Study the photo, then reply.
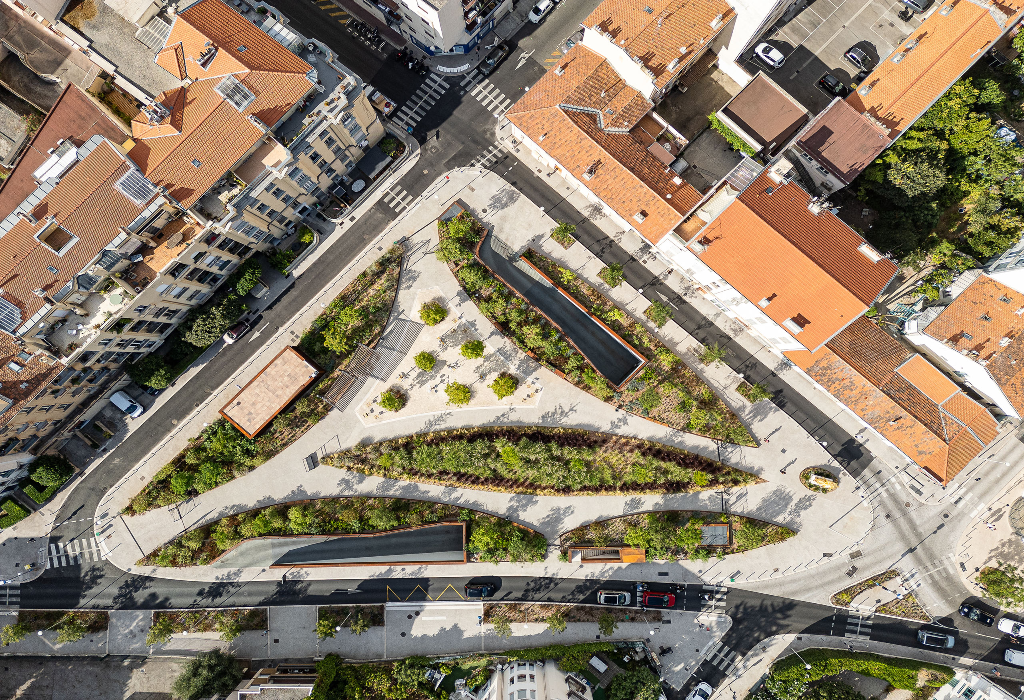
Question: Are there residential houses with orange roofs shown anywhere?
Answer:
Yes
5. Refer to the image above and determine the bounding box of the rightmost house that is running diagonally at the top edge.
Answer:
[842,0,1003,135]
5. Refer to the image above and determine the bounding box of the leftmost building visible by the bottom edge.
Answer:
[237,648,337,700]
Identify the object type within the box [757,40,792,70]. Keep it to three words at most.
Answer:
car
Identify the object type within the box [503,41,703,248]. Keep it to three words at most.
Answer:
house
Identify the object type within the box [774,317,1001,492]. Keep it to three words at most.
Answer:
house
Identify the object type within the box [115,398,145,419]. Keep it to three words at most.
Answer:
vehicle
